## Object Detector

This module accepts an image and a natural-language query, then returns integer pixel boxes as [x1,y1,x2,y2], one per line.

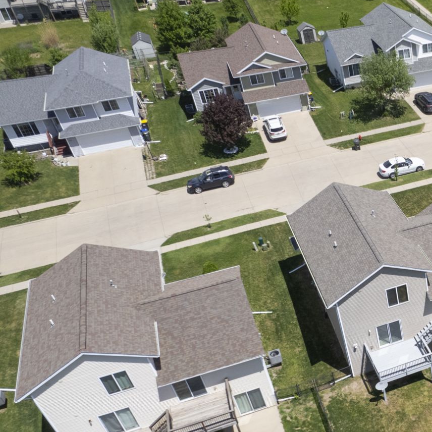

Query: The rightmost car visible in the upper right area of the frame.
[417,90,432,111]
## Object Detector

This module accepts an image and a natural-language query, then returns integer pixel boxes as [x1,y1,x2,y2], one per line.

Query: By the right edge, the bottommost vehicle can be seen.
[379,156,426,179]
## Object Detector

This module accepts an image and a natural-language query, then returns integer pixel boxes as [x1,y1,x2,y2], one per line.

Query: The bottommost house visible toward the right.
[285,182,432,389]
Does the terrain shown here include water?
No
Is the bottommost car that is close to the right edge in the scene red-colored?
No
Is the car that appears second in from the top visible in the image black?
No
